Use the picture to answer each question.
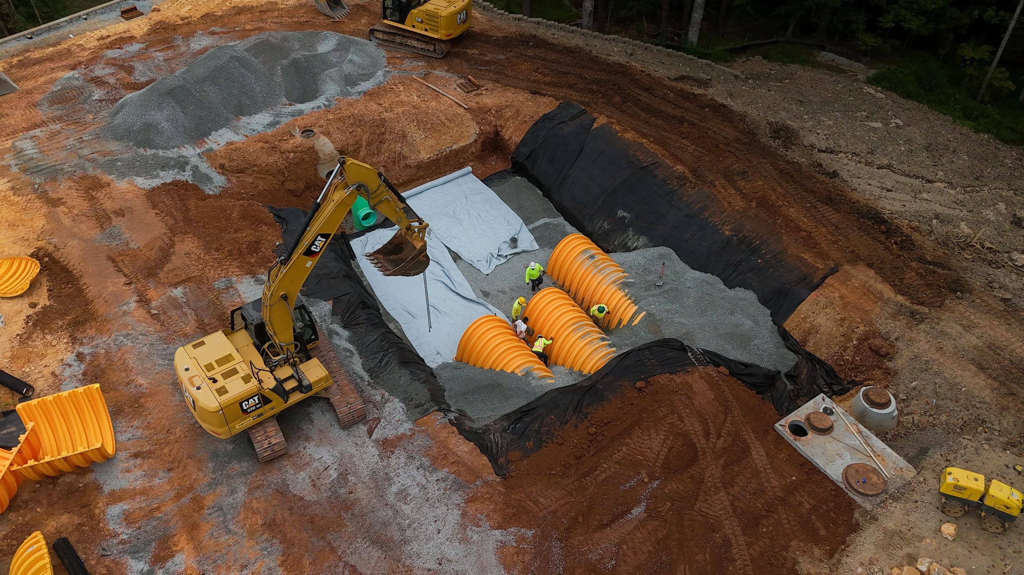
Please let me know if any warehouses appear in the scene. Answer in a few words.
No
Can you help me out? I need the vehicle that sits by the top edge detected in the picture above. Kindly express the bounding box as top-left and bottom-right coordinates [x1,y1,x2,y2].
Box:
[370,0,485,57]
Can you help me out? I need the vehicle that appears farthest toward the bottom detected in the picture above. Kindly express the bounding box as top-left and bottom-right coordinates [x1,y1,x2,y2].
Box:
[170,149,430,463]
